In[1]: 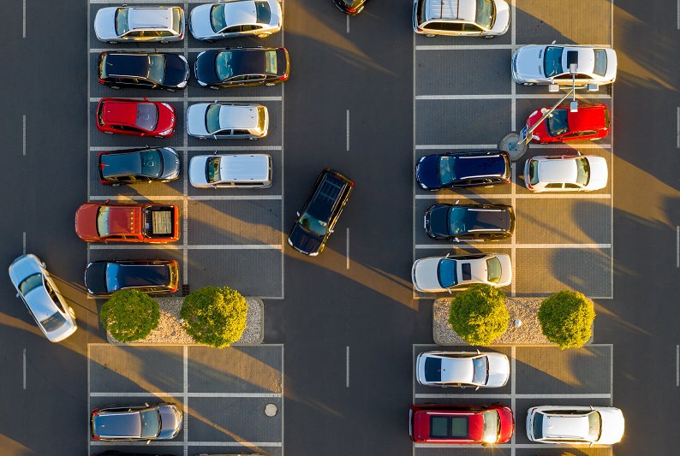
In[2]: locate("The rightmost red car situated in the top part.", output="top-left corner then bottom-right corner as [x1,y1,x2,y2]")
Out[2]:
[526,99,612,145]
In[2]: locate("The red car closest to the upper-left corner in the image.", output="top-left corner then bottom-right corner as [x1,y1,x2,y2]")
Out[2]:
[94,91,178,137]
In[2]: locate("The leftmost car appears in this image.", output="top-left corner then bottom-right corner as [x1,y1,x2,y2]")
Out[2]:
[9,255,77,340]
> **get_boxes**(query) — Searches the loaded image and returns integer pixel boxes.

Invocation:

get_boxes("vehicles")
[408,403,515,448]
[415,146,512,192]
[94,91,178,137]
[190,0,282,44]
[424,199,516,244]
[413,0,510,41]
[416,347,510,391]
[74,199,179,245]
[96,46,191,92]
[511,40,619,87]
[84,255,179,297]
[194,44,289,91]
[94,0,184,46]
[526,99,612,145]
[526,404,625,448]
[524,152,608,195]
[189,149,272,192]
[96,144,181,189]
[9,255,77,340]
[290,170,353,254]
[412,251,513,295]
[335,0,376,18]
[187,98,268,141]
[89,403,184,446]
